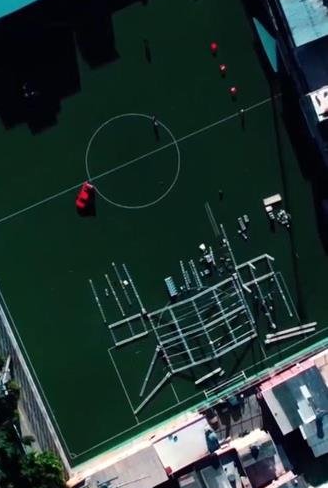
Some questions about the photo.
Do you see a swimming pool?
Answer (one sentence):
No, I can't see a single swimming pool in this photo.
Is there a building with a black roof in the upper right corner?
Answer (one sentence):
Yes, a building with a black roof is visible in the upper right corner.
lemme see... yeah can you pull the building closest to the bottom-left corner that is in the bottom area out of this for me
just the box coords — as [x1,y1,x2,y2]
[87,440,169,488]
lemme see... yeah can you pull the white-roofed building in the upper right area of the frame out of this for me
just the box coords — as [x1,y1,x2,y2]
[298,88,328,124]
